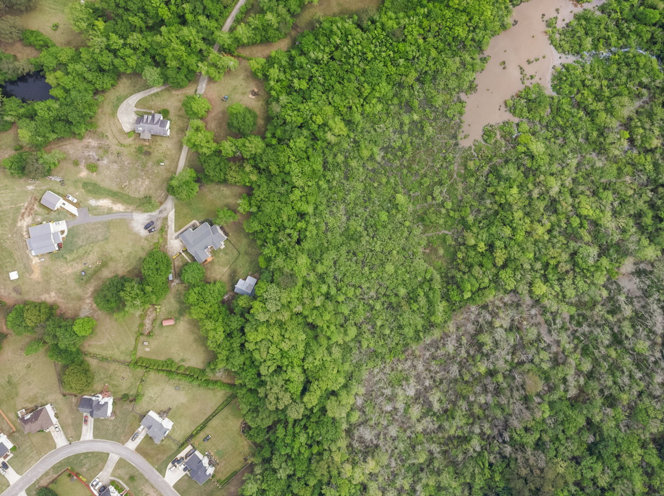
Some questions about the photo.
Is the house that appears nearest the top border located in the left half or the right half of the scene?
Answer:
left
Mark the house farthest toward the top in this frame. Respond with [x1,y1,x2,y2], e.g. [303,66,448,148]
[134,115,171,143]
